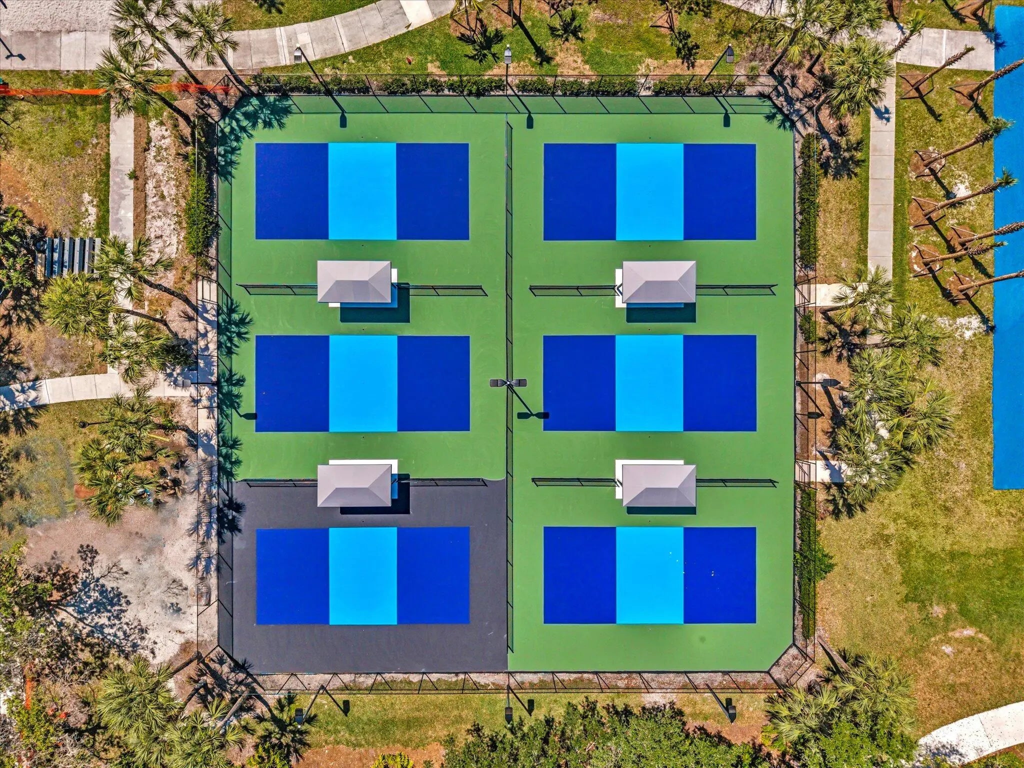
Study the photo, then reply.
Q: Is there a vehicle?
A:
No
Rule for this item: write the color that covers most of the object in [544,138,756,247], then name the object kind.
blue sports court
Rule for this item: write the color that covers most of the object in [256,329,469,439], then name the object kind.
blue sports court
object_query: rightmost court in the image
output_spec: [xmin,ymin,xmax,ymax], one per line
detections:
[992,6,1024,489]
